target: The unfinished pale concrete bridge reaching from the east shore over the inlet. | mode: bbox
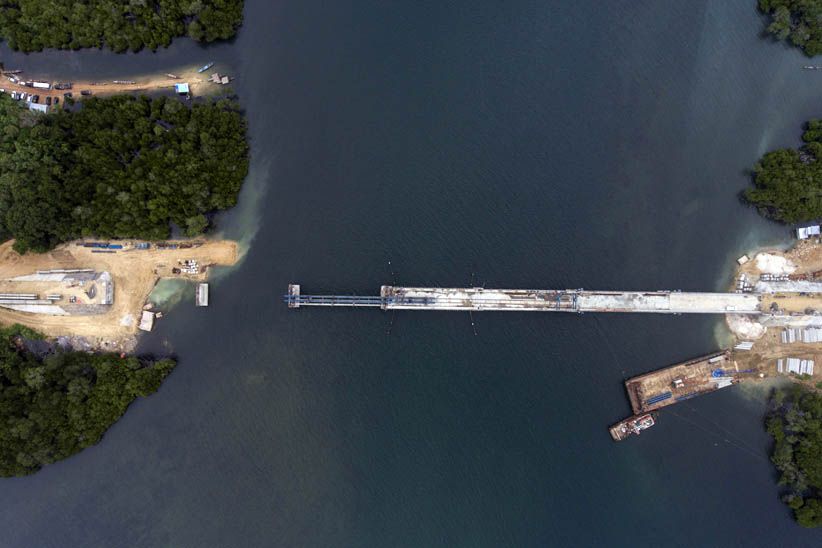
[382,286,767,315]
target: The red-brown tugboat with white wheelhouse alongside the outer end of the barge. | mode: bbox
[609,414,655,440]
